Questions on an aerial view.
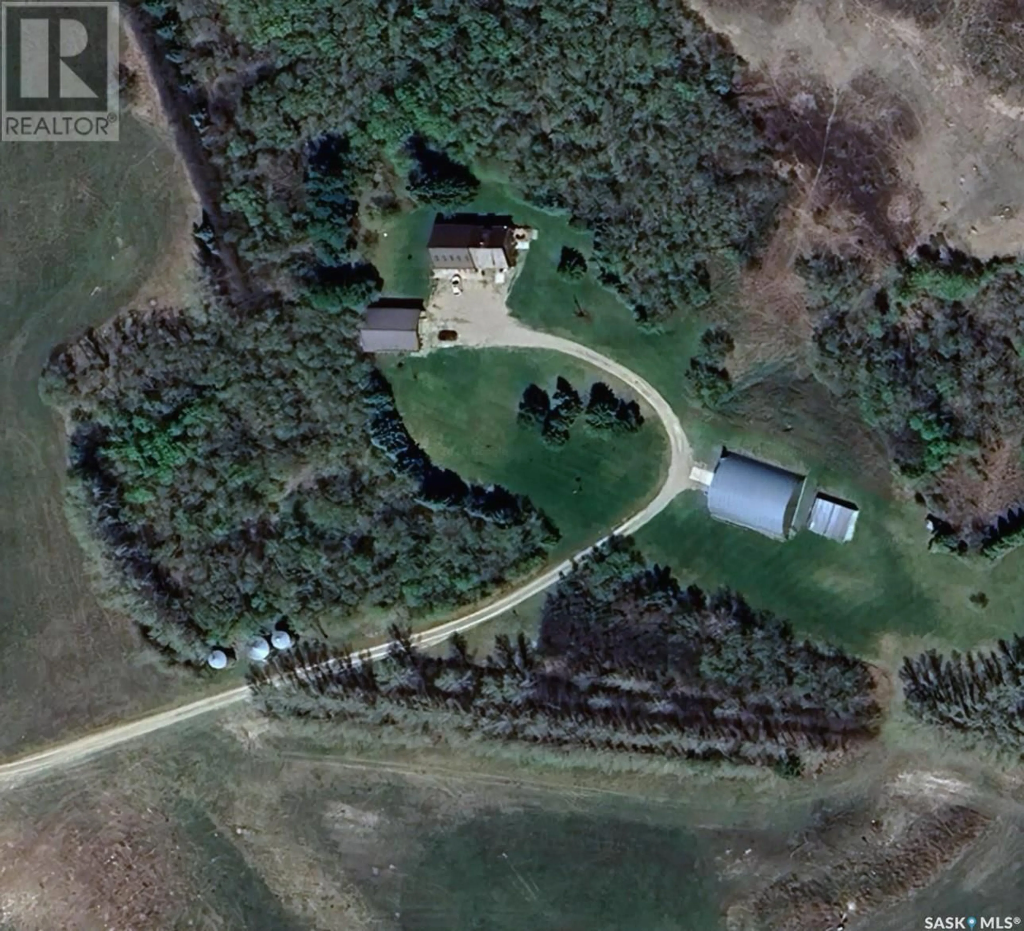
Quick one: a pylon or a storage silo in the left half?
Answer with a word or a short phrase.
storage silo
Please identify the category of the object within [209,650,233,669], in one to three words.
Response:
silo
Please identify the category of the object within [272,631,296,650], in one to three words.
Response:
silo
